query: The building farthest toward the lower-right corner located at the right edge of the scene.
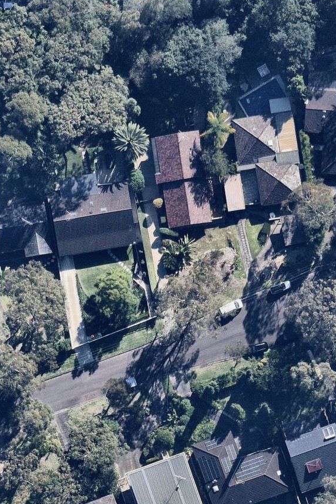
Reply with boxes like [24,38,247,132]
[286,423,336,493]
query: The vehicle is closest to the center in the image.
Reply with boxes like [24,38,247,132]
[217,301,243,315]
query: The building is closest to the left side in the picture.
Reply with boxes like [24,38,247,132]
[0,200,53,262]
